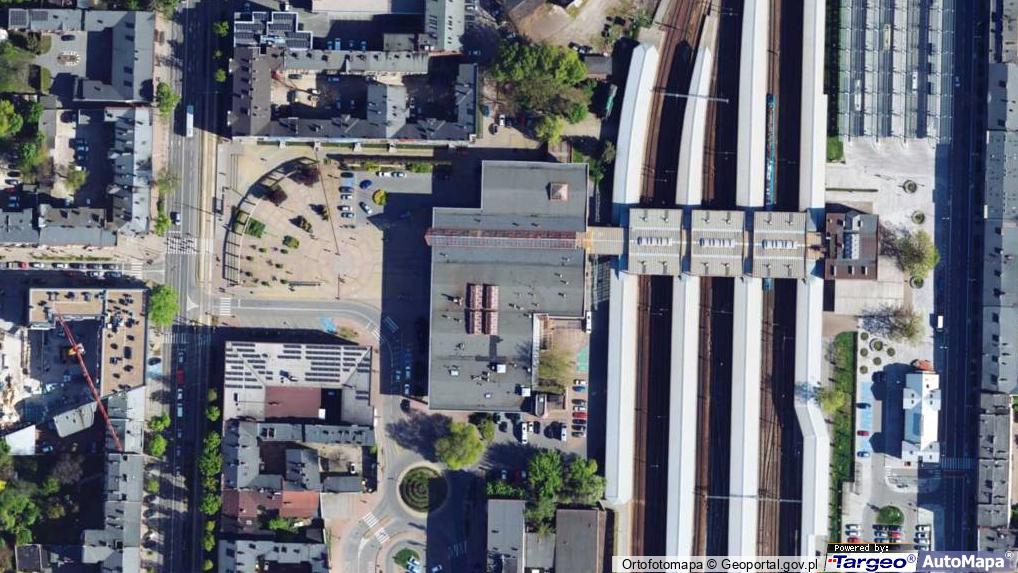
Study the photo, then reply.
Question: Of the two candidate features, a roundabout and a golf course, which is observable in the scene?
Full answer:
This aerial view contains a roundabout.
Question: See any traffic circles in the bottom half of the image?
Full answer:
Yes, the scene does show a traffic circle in the bottom half of the image.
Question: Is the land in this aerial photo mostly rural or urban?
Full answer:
The land in this view is best described as urban.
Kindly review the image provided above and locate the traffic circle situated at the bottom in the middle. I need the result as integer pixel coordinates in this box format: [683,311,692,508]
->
[396,464,448,515]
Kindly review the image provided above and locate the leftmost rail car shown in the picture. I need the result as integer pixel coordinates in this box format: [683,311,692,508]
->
[603,85,616,116]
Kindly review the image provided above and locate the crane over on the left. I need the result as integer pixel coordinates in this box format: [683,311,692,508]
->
[53,309,124,451]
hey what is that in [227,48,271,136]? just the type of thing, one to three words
building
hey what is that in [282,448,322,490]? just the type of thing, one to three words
house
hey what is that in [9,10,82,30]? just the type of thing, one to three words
shed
